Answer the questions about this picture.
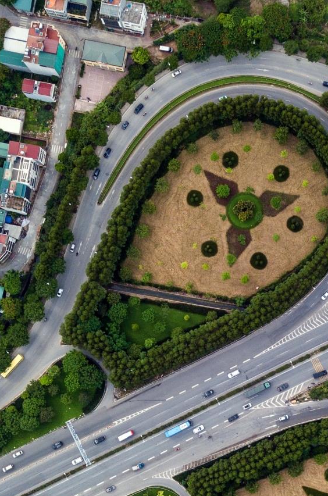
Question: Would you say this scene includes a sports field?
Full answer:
No, no sports field is visible in the view.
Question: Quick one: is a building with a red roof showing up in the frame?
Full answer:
Yes, this view includes a building with a red roof.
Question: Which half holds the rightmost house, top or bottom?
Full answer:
Seen from above, the rightmost house lies in the top half of the view.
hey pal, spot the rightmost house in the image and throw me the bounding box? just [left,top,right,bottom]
[121,1,153,40]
